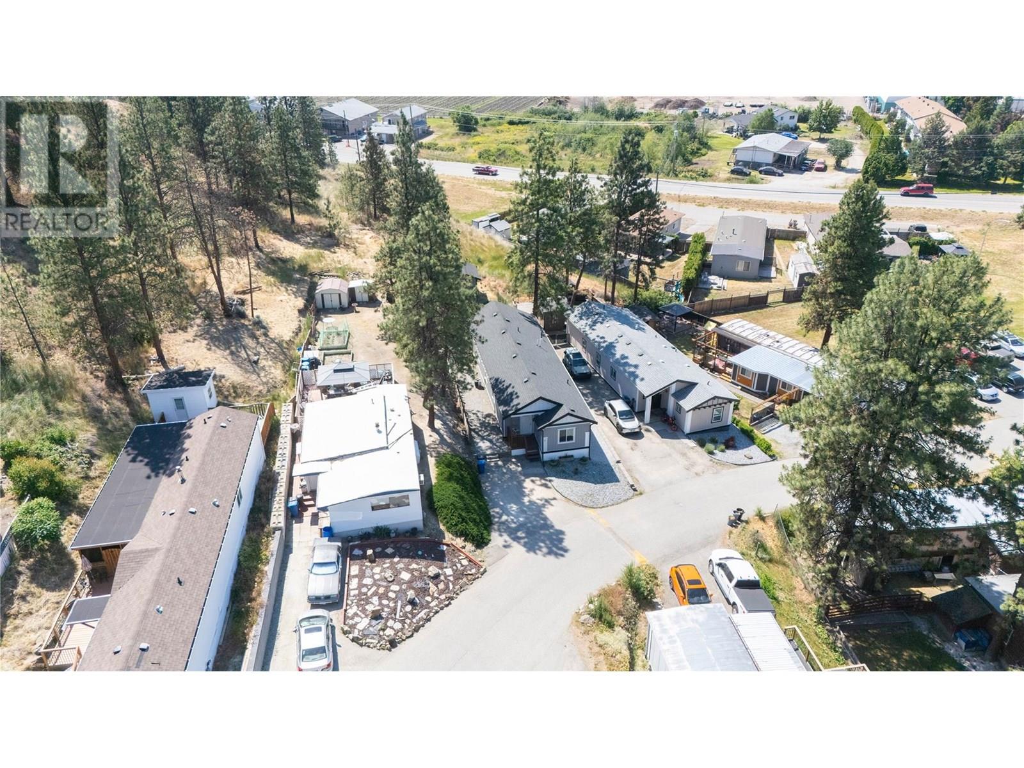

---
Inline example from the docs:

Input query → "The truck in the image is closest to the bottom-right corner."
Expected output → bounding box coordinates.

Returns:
[716,546,785,620]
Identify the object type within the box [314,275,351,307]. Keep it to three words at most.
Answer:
shed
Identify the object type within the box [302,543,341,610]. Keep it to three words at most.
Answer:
car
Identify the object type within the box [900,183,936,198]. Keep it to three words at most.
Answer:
car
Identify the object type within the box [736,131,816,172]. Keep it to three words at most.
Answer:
house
